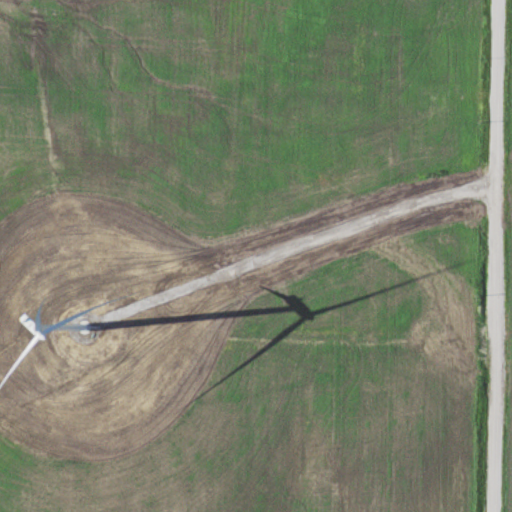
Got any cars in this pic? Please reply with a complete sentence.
No, this view has no car in it.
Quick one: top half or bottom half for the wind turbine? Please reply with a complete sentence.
The wind turbine is in the bottom half of the image.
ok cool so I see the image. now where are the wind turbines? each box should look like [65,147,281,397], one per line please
[0,300,132,388]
